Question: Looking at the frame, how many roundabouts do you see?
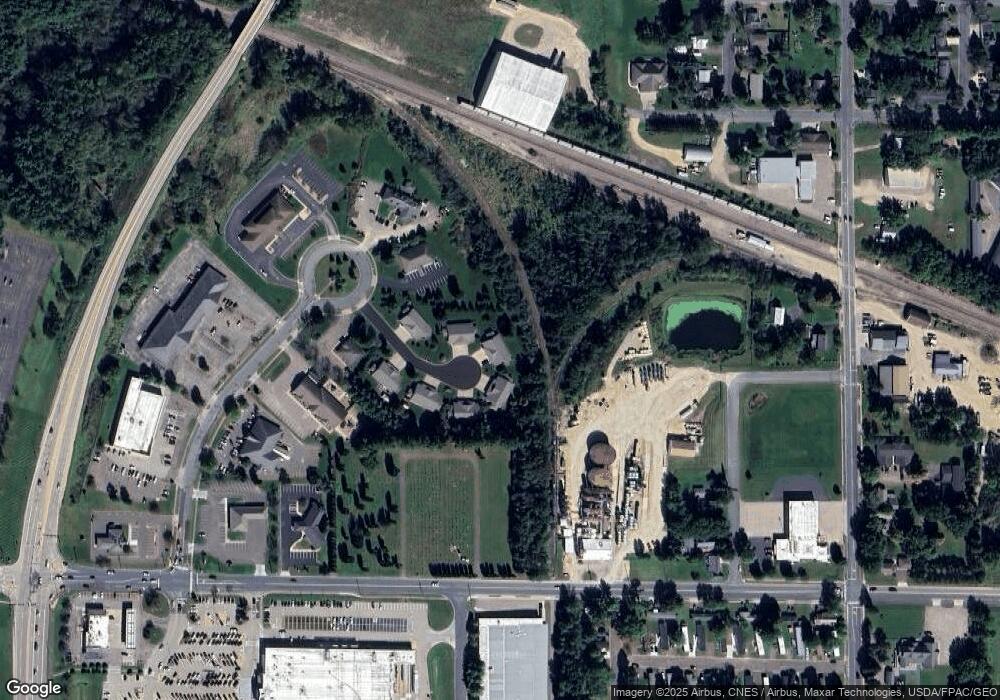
1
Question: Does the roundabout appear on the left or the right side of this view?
left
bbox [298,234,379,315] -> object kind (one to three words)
roundabout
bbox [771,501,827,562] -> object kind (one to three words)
building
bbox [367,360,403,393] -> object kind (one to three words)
house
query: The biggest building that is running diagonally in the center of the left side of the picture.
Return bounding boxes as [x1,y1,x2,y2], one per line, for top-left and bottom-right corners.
[137,262,233,359]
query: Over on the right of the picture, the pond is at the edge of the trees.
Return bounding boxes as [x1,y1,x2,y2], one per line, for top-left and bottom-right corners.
[659,292,748,356]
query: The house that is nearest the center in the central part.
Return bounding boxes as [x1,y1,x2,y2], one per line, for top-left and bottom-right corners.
[480,332,514,367]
